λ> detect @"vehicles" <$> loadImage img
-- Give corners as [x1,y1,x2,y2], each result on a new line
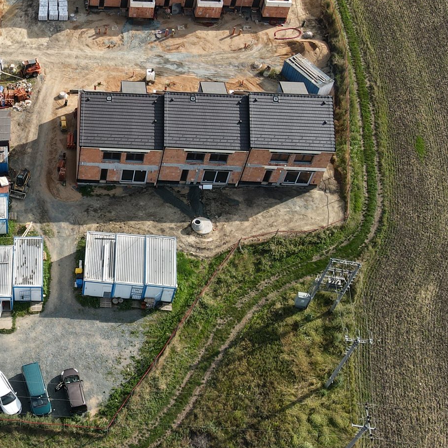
[20,358,52,421]
[0,369,21,421]
[53,367,89,417]
[9,167,31,198]
[15,57,42,78]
